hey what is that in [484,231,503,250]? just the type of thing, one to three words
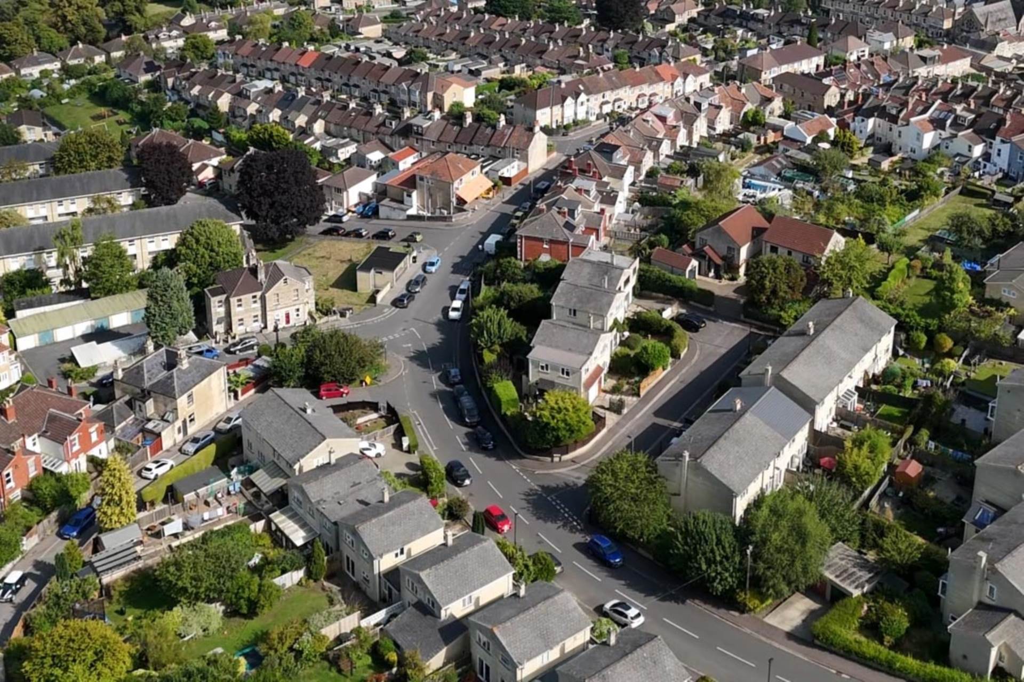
vehicle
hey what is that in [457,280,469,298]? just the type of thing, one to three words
vehicle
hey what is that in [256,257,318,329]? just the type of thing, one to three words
house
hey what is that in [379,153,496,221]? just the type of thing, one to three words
building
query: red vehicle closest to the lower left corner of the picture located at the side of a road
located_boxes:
[319,384,350,401]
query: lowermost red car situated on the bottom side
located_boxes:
[484,502,510,530]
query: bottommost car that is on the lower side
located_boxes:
[602,599,646,626]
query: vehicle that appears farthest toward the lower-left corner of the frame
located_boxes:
[0,570,24,599]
